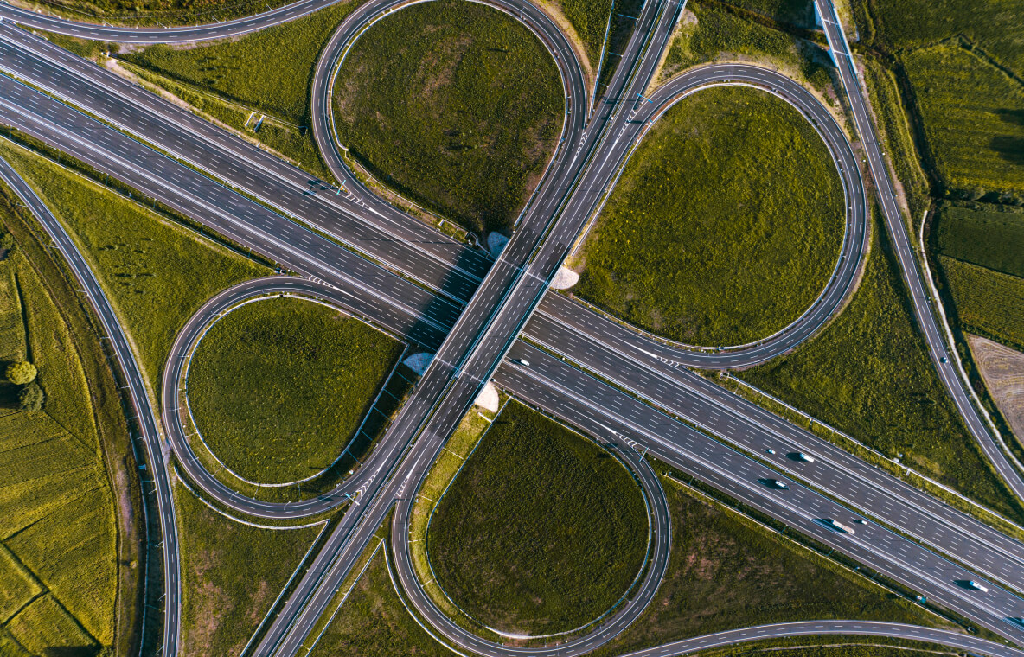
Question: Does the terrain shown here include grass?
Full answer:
Yes, there's grass in this view.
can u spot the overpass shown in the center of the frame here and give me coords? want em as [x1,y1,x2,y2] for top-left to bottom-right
[424,237,561,405]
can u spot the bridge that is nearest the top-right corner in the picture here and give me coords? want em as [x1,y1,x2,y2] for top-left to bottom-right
[811,0,856,74]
